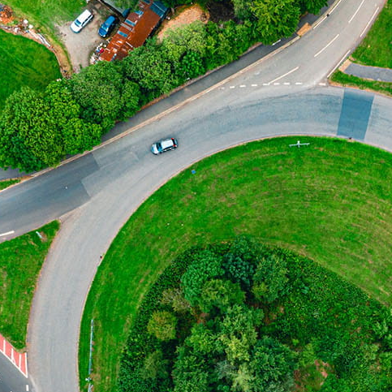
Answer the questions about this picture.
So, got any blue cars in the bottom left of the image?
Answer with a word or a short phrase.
No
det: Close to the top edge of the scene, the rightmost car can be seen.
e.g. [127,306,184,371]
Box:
[98,13,117,38]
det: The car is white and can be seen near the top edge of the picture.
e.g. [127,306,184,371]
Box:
[72,8,93,32]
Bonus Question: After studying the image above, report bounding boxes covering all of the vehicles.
[72,8,93,32]
[151,137,179,154]
[98,13,117,38]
